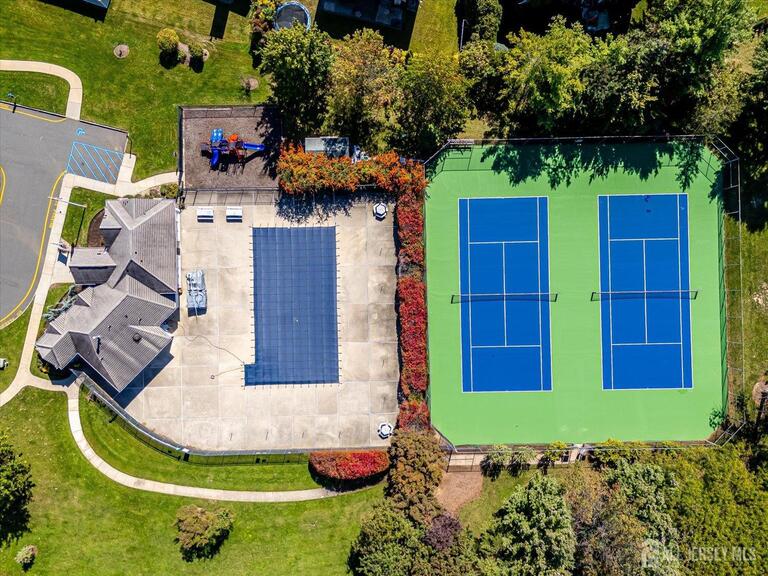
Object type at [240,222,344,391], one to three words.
swimming pool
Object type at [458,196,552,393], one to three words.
tennis court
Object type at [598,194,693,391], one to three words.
tennis court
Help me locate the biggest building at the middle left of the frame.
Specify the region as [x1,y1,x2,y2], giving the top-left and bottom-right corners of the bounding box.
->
[35,196,183,391]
